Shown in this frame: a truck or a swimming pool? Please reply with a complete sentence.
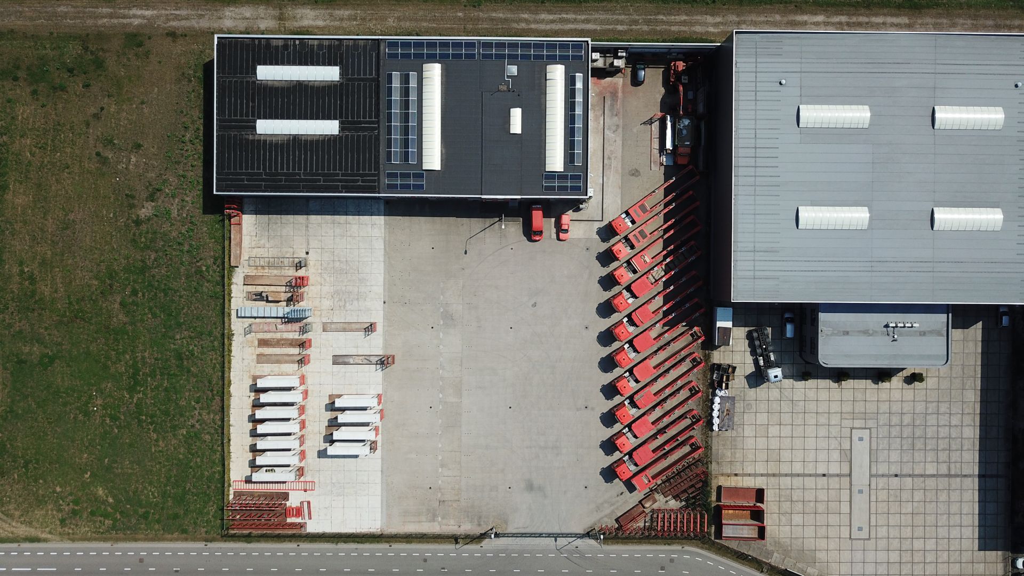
The image shows a truck.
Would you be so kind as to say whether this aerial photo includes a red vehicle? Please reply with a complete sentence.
Yes, there is a red vehicle in the image.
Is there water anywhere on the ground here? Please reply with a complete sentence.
No, no water is visible.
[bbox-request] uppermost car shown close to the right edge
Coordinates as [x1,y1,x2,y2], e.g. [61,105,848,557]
[993,305,1009,328]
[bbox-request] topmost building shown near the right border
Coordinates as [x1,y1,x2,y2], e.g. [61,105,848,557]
[709,30,1024,305]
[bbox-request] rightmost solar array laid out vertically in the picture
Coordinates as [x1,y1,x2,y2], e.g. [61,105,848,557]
[569,73,583,164]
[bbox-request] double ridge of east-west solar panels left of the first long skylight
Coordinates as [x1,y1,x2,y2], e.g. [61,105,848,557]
[386,72,416,163]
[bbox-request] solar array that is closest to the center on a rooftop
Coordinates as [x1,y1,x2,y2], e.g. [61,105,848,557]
[543,172,582,191]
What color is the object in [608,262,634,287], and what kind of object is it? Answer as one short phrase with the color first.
red truck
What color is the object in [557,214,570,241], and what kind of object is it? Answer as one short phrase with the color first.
red vehicle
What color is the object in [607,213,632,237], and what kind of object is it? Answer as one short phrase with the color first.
red truck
